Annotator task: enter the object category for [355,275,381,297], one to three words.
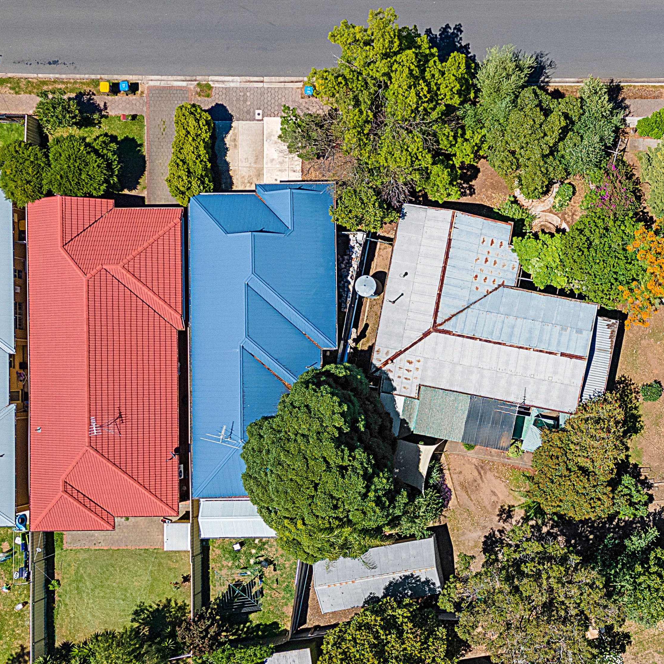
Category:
water tank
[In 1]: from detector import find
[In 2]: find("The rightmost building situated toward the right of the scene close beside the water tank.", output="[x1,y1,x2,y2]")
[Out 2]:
[369,201,601,415]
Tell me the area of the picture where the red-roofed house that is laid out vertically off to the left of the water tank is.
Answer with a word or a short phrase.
left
